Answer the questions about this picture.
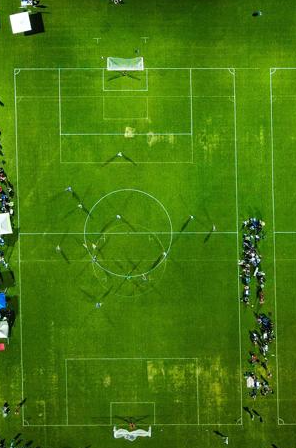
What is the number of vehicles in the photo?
none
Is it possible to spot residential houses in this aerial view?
No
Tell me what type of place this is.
sports ground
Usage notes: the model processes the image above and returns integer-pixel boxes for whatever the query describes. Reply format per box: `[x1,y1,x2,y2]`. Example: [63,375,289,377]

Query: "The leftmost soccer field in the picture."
[15,68,242,426]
